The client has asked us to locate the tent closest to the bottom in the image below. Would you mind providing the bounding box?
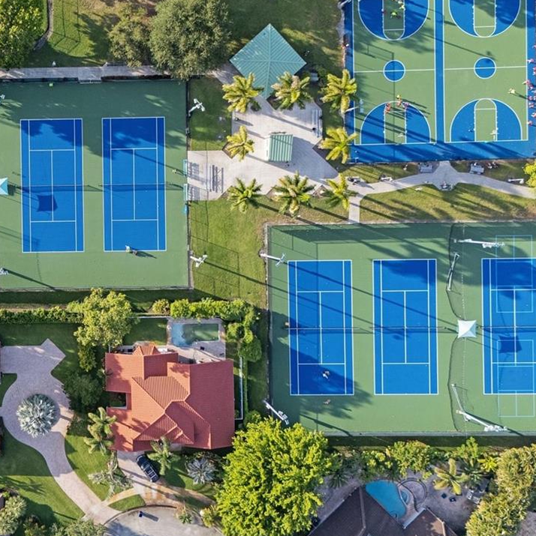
[452,318,475,338]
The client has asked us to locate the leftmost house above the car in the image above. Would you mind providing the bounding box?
[106,345,235,452]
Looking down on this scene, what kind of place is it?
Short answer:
sports ground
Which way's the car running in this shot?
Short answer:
on a diagonal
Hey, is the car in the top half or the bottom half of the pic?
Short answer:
bottom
